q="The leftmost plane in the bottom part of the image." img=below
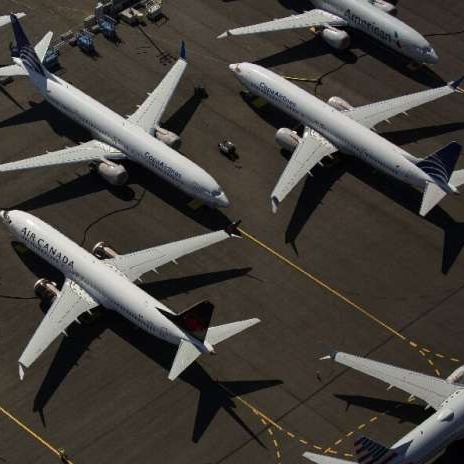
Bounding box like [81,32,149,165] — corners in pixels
[1,209,260,380]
